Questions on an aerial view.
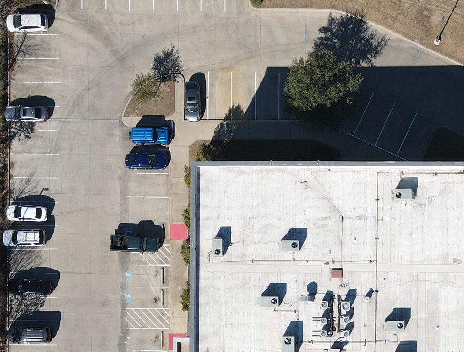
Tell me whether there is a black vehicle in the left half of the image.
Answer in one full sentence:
Yes, in the left half of the image there is a black vehicle.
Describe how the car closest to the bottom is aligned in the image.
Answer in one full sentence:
The car closest to the bottom runs from side to side in the image.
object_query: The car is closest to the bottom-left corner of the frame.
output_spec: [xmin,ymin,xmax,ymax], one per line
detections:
[7,326,53,346]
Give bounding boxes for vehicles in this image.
[7,326,53,346]
[2,227,48,247]
[8,276,54,297]
[7,202,48,223]
[109,232,161,254]
[6,12,49,33]
[126,125,170,145]
[5,104,48,123]
[183,81,202,122]
[124,151,169,171]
